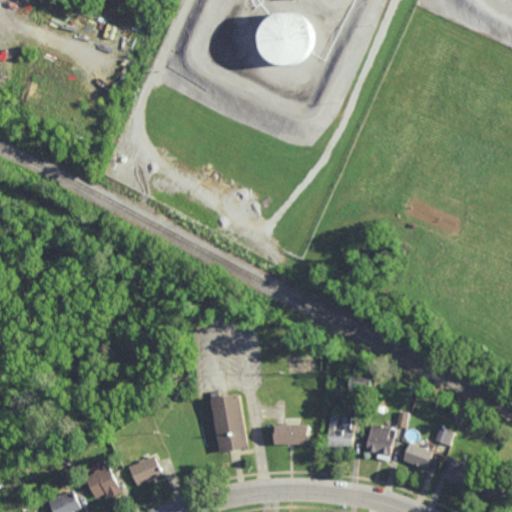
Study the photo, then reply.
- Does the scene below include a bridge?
No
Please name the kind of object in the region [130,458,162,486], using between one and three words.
house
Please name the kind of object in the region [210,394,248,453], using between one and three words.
building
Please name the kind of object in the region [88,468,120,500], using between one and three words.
house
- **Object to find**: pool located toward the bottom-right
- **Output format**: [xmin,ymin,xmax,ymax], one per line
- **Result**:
[404,428,421,444]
